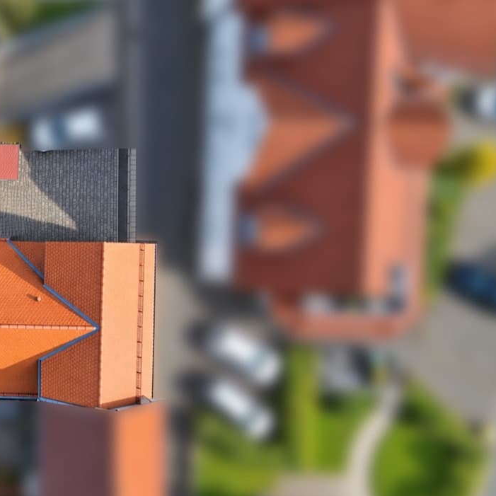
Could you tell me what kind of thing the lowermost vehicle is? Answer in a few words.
car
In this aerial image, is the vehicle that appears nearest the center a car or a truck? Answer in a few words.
car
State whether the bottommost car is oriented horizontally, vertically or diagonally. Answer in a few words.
diagonally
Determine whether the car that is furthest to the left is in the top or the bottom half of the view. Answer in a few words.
top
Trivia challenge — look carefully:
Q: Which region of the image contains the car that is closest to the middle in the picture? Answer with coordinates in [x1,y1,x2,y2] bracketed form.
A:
[204,319,282,387]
